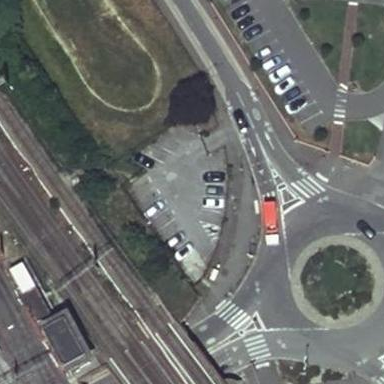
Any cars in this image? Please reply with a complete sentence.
Yes, the picture does show a car.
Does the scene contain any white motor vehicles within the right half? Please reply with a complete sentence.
Yes, within the right half there is a white motor vehicle.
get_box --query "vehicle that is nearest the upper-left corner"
[133,152,156,169]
